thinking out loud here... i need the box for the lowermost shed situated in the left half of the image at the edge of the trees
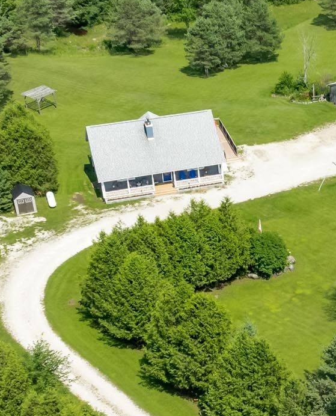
[11,179,38,216]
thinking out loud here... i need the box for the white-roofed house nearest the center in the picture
[85,108,246,203]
